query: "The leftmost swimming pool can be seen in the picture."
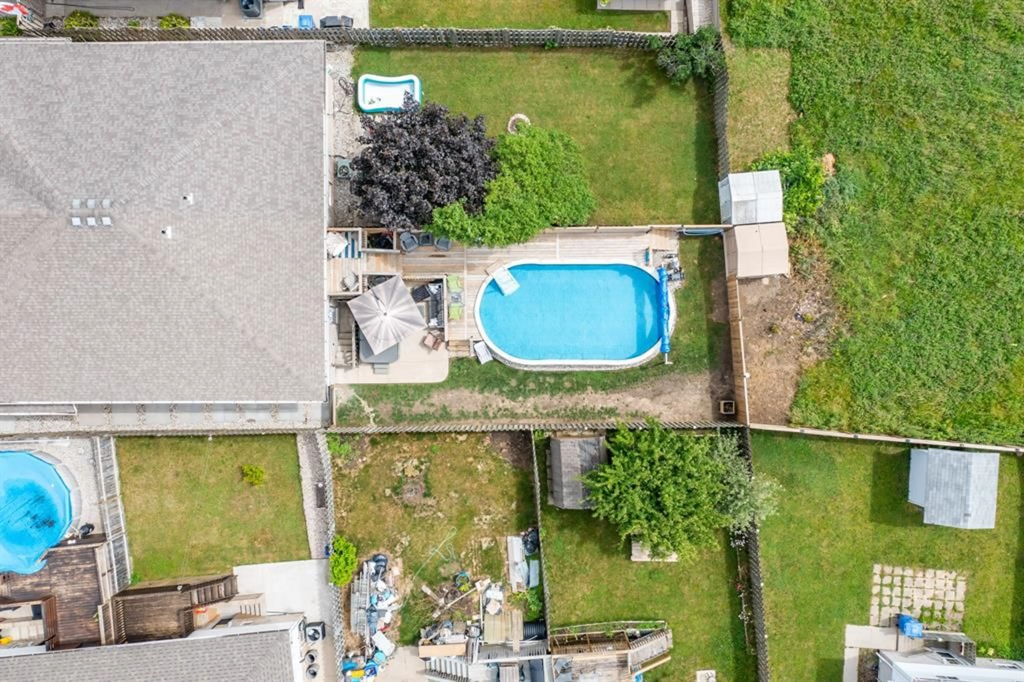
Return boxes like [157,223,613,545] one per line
[0,440,85,575]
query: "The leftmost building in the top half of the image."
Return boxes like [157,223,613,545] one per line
[0,34,333,416]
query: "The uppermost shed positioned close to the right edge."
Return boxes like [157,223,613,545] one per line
[904,447,1000,529]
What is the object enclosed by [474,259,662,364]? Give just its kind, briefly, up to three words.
swimming pool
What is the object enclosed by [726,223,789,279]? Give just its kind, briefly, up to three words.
shed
